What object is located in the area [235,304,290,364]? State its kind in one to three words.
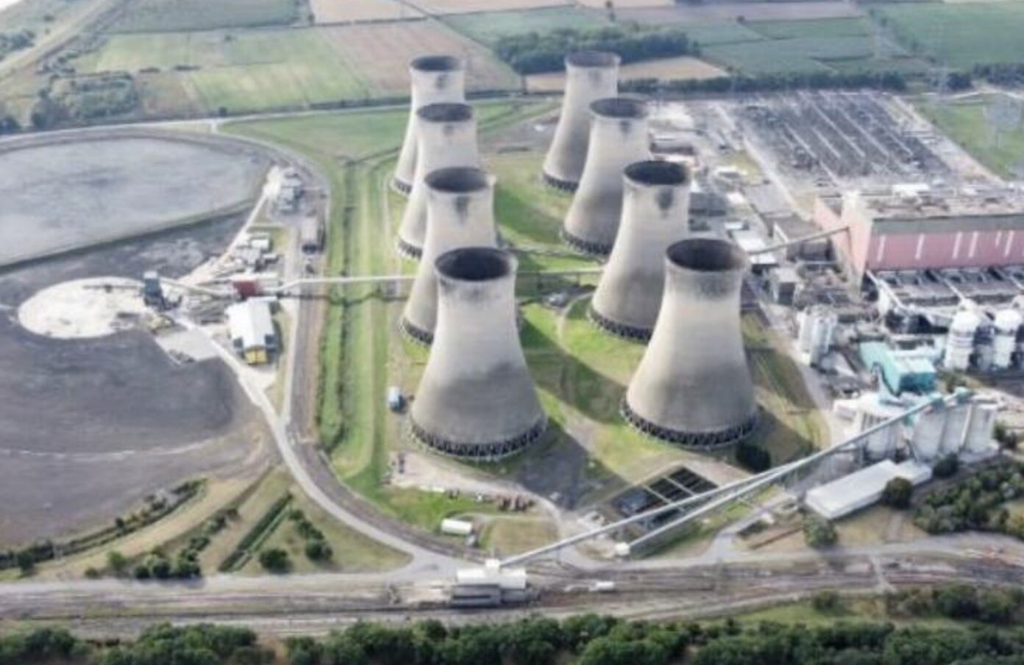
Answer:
shed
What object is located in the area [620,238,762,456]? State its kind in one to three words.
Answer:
cooling tower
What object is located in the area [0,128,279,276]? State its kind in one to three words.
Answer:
pond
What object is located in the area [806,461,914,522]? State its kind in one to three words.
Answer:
building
